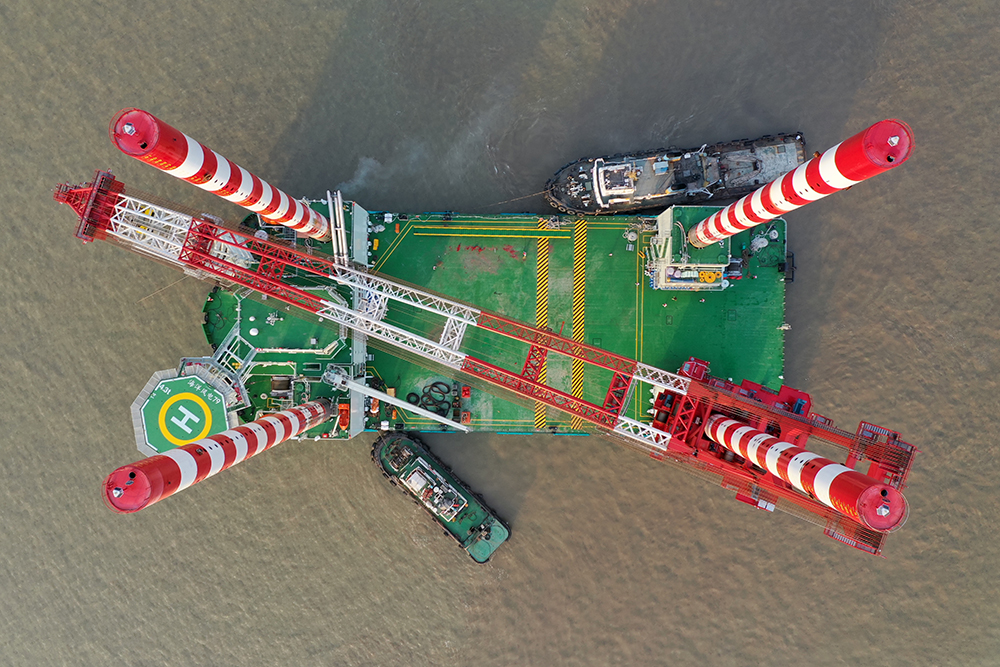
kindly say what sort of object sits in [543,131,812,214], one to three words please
boat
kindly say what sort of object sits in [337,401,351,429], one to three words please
boat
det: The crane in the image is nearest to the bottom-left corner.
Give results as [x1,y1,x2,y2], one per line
[323,365,472,435]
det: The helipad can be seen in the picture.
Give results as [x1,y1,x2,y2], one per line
[131,323,260,456]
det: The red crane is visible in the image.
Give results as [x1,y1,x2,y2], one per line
[49,167,926,559]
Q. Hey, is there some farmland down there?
No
